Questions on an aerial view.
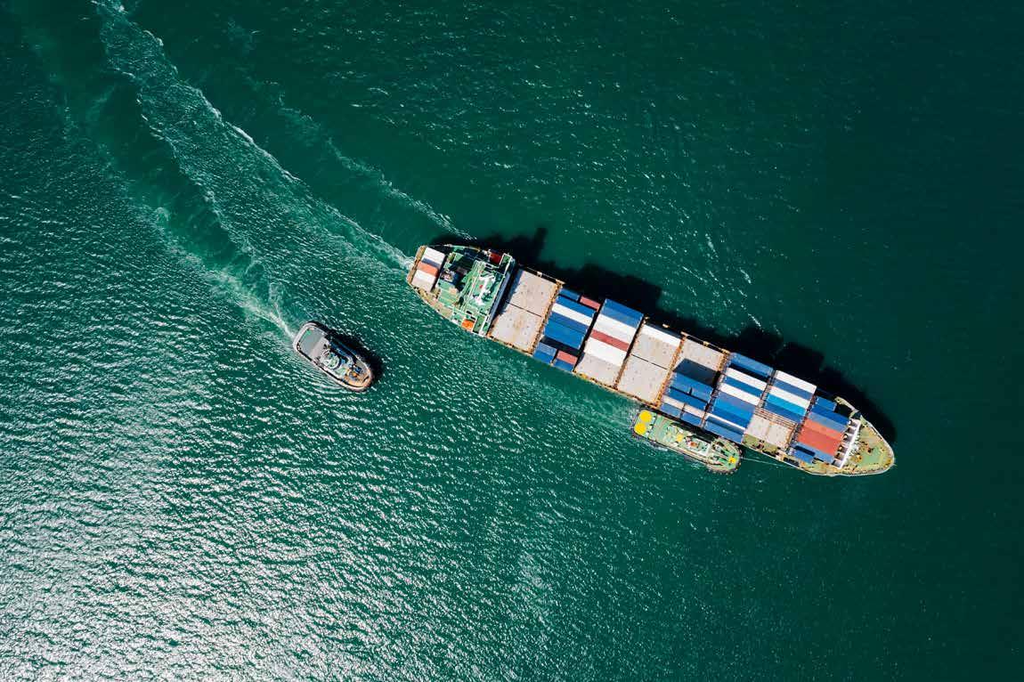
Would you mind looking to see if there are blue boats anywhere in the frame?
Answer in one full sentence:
No, I can see no blue boat in this picture.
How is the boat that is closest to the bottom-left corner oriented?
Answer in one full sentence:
The boat that is closest to the bottom-left corner runs diagonally in the image.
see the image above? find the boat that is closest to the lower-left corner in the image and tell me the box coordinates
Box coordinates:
[293,321,373,392]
